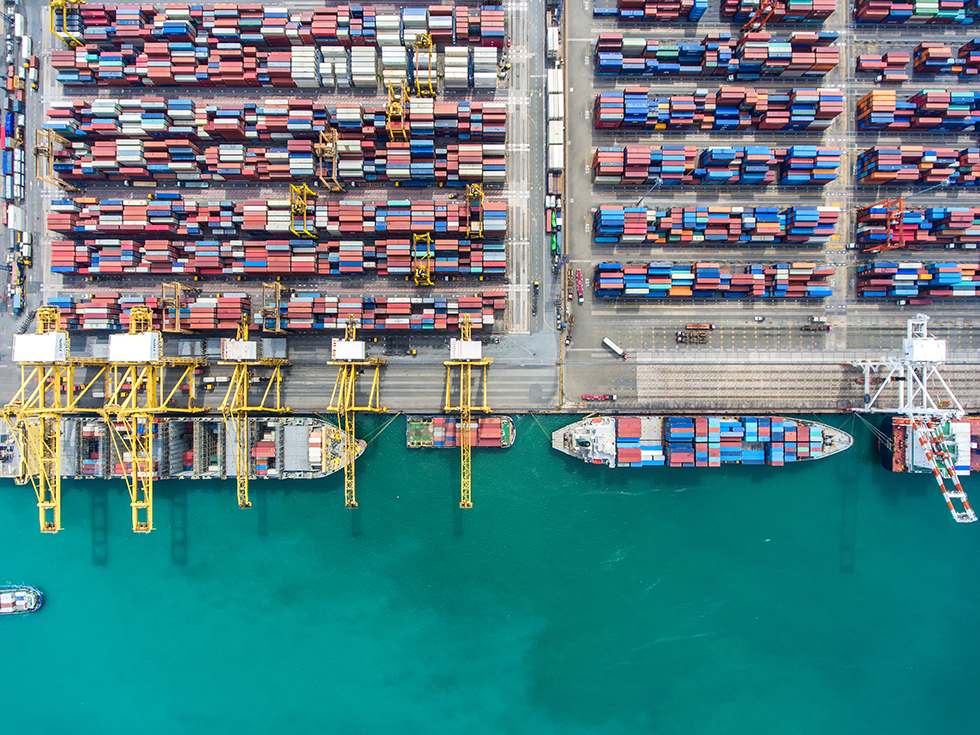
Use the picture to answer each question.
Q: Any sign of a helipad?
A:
No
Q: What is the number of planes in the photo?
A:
zero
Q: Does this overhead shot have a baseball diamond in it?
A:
No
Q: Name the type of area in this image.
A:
port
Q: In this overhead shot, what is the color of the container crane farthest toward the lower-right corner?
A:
white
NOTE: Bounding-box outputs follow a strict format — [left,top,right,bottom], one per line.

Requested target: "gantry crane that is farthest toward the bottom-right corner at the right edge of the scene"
[837,313,980,522]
